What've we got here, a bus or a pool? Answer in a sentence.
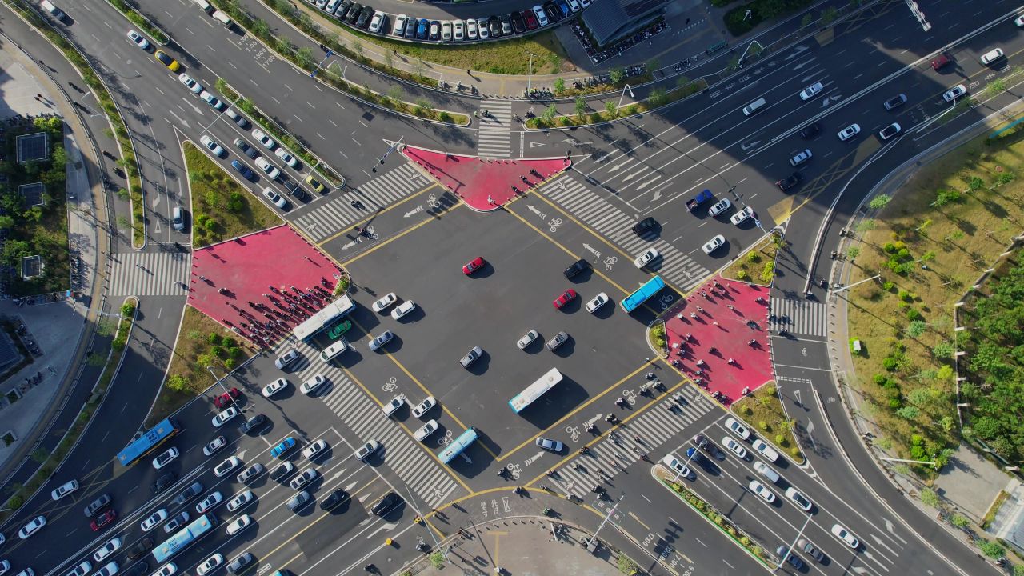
Visible in the photo is a bus.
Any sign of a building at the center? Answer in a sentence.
No, there's no building to be seen at the center.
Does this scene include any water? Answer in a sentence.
No, water can't be seen anywhere here.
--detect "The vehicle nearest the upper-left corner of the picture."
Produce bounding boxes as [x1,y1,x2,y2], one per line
[40,0,66,21]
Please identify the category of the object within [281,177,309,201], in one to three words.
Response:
truck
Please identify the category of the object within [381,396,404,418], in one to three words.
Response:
car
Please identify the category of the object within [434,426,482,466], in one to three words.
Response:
bus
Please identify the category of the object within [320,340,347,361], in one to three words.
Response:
vehicle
